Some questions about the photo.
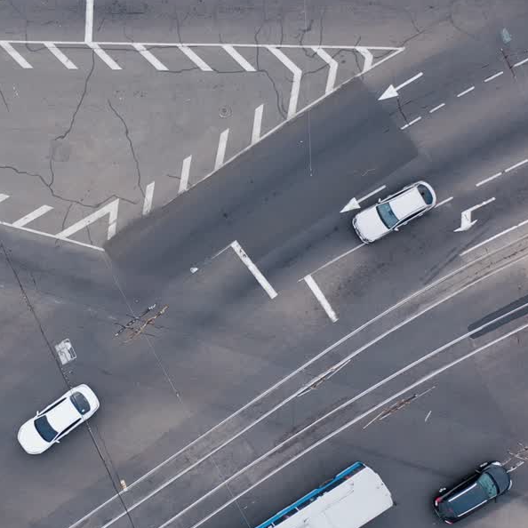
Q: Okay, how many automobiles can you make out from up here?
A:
3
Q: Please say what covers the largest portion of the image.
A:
paved ground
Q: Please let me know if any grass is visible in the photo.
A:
No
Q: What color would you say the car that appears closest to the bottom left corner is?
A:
white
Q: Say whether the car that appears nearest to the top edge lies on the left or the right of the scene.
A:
right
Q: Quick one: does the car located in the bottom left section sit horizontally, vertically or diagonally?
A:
diagonally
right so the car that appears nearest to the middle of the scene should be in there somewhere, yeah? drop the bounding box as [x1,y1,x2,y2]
[351,183,435,245]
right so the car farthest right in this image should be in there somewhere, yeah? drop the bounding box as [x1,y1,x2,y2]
[430,462,506,525]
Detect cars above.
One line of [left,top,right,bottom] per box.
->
[18,386,99,454]
[430,462,506,525]
[351,183,435,245]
